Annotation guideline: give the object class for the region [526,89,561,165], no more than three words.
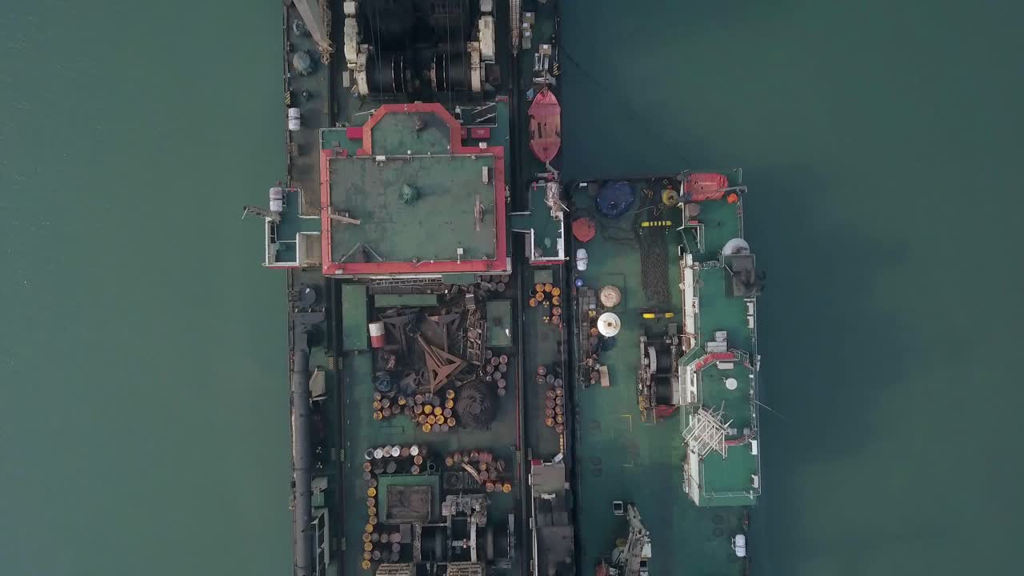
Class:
boat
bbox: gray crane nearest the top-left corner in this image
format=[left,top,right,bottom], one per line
[292,0,334,64]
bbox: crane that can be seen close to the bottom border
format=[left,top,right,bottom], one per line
[593,502,652,576]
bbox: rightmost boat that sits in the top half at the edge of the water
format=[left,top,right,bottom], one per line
[685,173,728,201]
